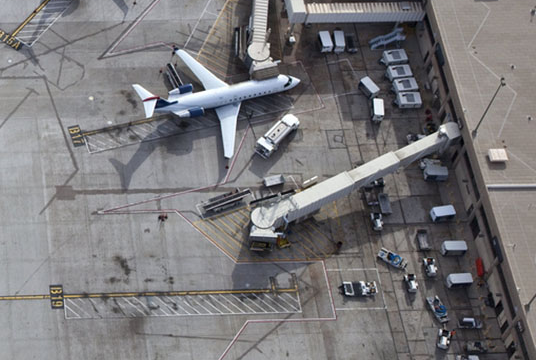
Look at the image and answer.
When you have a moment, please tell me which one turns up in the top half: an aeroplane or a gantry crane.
aeroplane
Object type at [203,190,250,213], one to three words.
work vehicle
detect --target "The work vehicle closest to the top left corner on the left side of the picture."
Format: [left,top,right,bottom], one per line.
[167,59,187,89]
